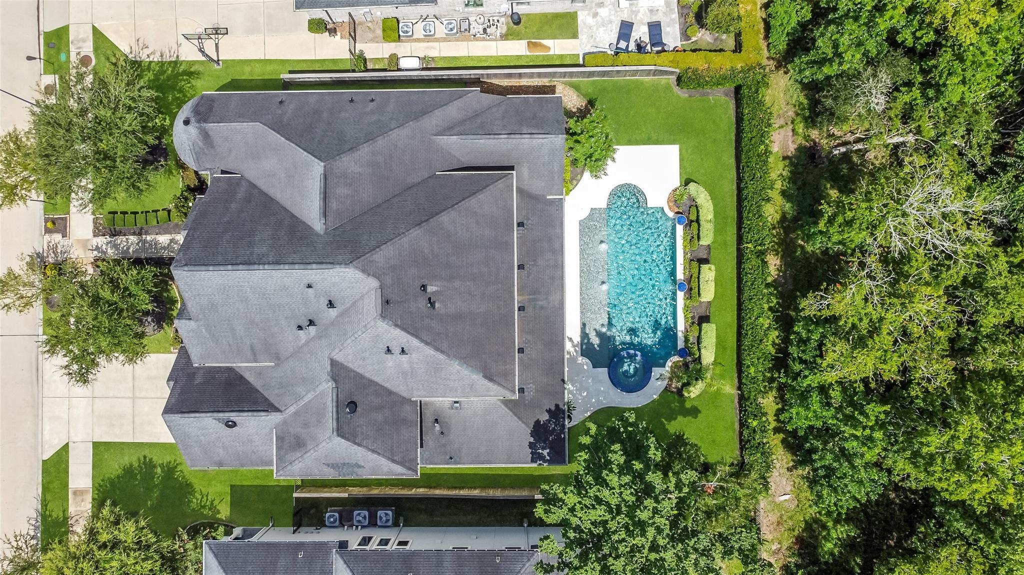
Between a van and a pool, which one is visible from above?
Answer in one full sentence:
Looking from above, you can make out a pool.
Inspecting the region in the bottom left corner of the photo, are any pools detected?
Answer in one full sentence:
No, no pool can be made out in the bottom left corner of the photo.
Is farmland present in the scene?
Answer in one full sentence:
No, farmland can't be seen anywhere here.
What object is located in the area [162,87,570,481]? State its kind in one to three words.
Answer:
house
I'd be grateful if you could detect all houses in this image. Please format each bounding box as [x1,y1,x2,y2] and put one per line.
[293,0,581,24]
[162,87,570,481]
[202,517,570,575]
